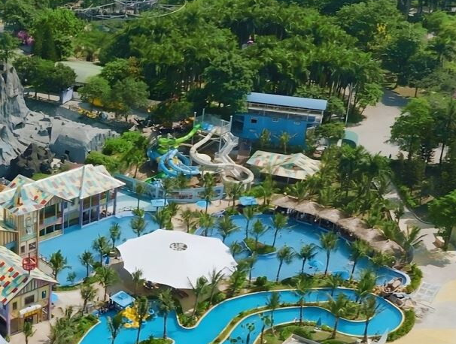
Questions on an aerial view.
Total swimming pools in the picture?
2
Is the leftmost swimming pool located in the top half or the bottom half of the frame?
bottom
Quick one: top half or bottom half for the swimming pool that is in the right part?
bottom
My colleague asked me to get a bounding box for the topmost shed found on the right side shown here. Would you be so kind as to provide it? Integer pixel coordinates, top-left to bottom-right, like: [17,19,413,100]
[234,92,334,154]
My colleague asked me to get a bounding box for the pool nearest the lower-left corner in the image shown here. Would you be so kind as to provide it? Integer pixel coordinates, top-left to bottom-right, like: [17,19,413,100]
[38,213,157,286]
